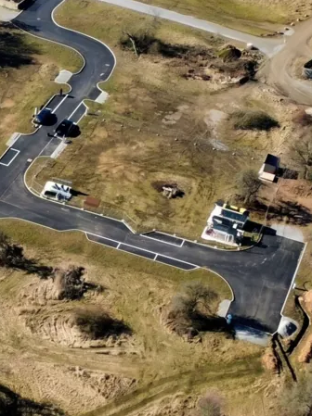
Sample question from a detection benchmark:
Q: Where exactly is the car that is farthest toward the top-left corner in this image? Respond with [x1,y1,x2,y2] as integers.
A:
[35,108,53,121]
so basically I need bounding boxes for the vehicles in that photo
[42,181,71,198]
[55,122,72,136]
[35,108,53,121]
